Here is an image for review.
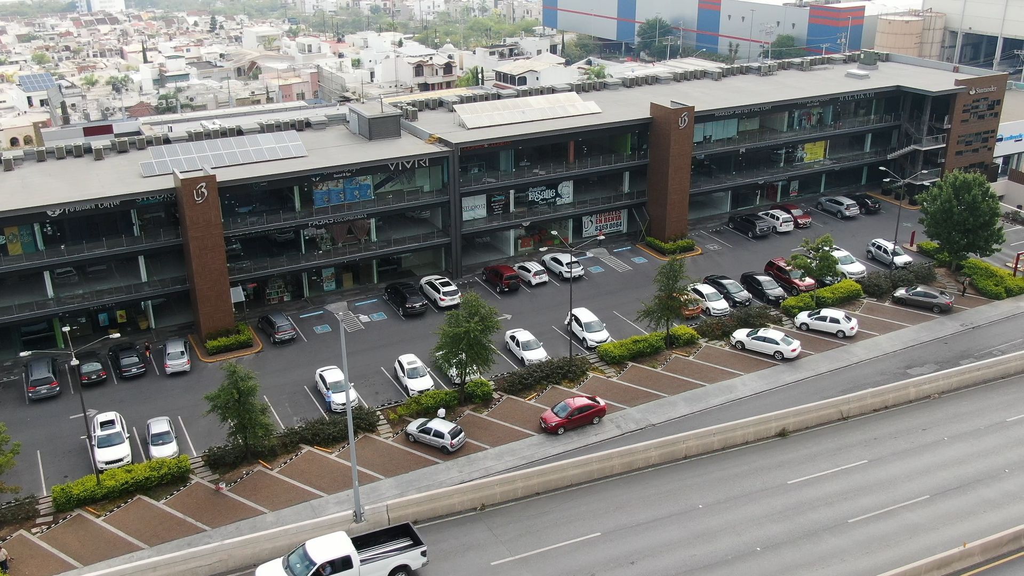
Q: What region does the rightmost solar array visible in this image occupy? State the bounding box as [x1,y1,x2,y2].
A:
[434,92,602,131]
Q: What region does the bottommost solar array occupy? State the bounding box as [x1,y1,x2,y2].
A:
[142,128,308,178]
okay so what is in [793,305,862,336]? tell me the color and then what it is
white car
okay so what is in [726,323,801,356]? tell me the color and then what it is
white car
